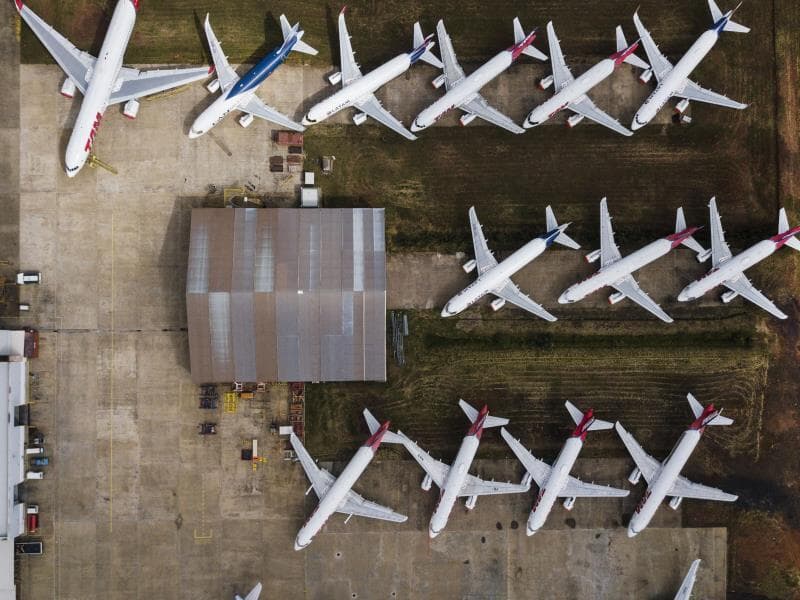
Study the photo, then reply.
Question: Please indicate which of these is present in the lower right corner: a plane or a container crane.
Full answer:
There is a plane in the lower right corner.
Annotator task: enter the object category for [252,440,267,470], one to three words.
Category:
work vehicle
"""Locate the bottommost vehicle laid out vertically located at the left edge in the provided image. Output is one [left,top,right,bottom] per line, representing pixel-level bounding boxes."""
[27,505,39,532]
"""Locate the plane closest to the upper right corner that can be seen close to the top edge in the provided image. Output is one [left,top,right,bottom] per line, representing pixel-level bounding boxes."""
[630,0,758,130]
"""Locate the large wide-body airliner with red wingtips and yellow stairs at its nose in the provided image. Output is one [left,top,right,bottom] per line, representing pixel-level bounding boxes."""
[16,0,220,177]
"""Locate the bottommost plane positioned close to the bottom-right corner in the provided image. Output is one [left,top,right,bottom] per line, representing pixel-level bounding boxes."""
[670,559,703,600]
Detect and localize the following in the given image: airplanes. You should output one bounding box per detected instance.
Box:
[616,392,742,535]
[677,193,800,319]
[235,581,262,600]
[189,11,320,139]
[16,0,220,177]
[410,14,551,133]
[630,0,758,130]
[670,559,703,600]
[523,16,653,136]
[398,398,532,535]
[291,409,410,548]
[301,4,447,138]
[441,203,583,321]
[502,399,632,534]
[558,195,709,322]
